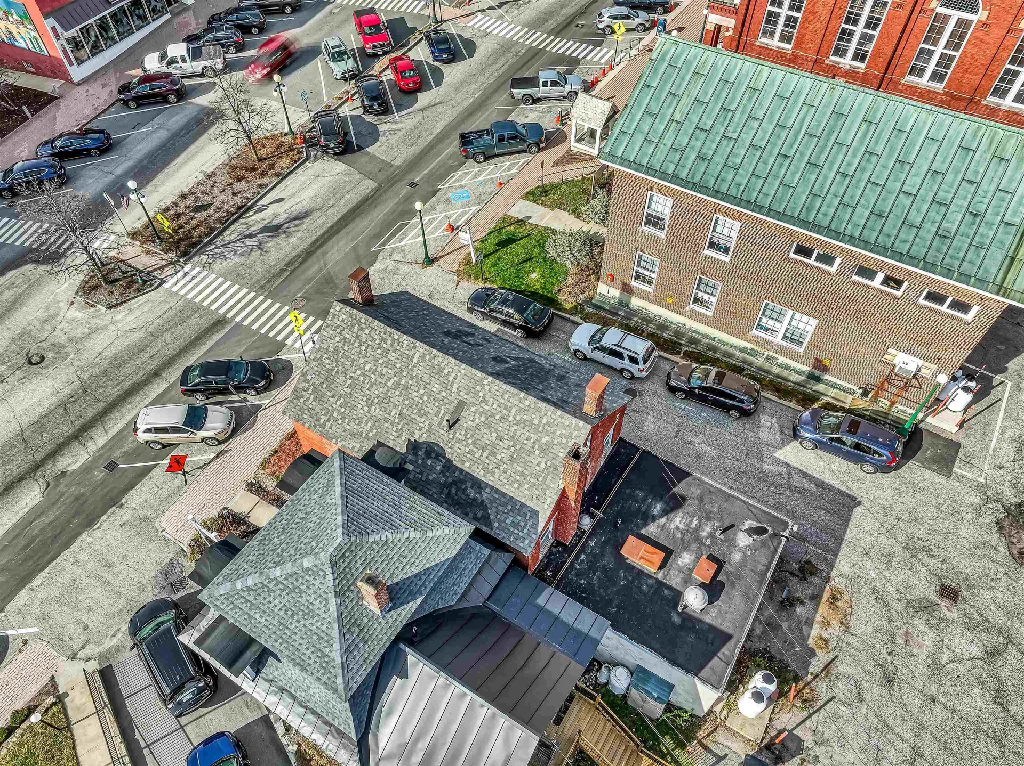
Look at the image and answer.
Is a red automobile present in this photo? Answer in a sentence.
Yes, a red automobile is visible in the scene.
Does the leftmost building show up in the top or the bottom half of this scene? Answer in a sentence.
You can find the leftmost building in the top half.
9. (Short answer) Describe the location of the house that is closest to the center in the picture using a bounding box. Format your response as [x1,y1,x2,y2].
[282,263,635,576]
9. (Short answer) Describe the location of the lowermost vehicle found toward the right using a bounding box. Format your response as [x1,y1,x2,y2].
[792,407,909,477]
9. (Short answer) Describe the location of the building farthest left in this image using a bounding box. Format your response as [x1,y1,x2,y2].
[0,0,190,83]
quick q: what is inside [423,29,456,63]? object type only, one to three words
car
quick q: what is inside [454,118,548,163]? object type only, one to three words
truck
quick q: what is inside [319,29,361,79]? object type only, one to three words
car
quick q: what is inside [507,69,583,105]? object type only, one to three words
truck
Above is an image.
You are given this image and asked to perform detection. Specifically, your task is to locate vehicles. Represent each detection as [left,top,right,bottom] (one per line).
[507,69,583,105]
[423,29,456,63]
[466,288,554,339]
[239,0,299,14]
[352,7,393,55]
[567,323,663,381]
[0,146,74,198]
[124,400,234,450]
[135,602,226,734]
[240,41,296,81]
[319,29,361,79]
[309,111,348,156]
[387,56,424,93]
[34,126,113,157]
[603,0,672,14]
[171,357,273,401]
[666,359,771,420]
[206,3,267,34]
[592,4,652,34]
[141,43,227,77]
[183,23,244,55]
[454,118,548,163]
[792,407,909,477]
[352,74,391,117]
[116,70,186,108]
